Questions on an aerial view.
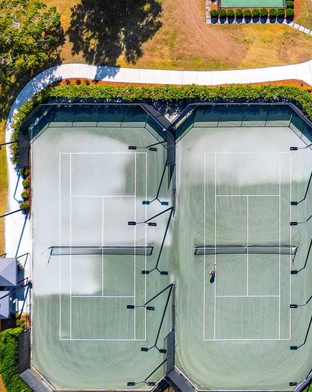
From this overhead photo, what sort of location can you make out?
sports ground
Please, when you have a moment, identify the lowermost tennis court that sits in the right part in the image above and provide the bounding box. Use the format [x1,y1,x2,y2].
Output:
[175,104,312,392]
